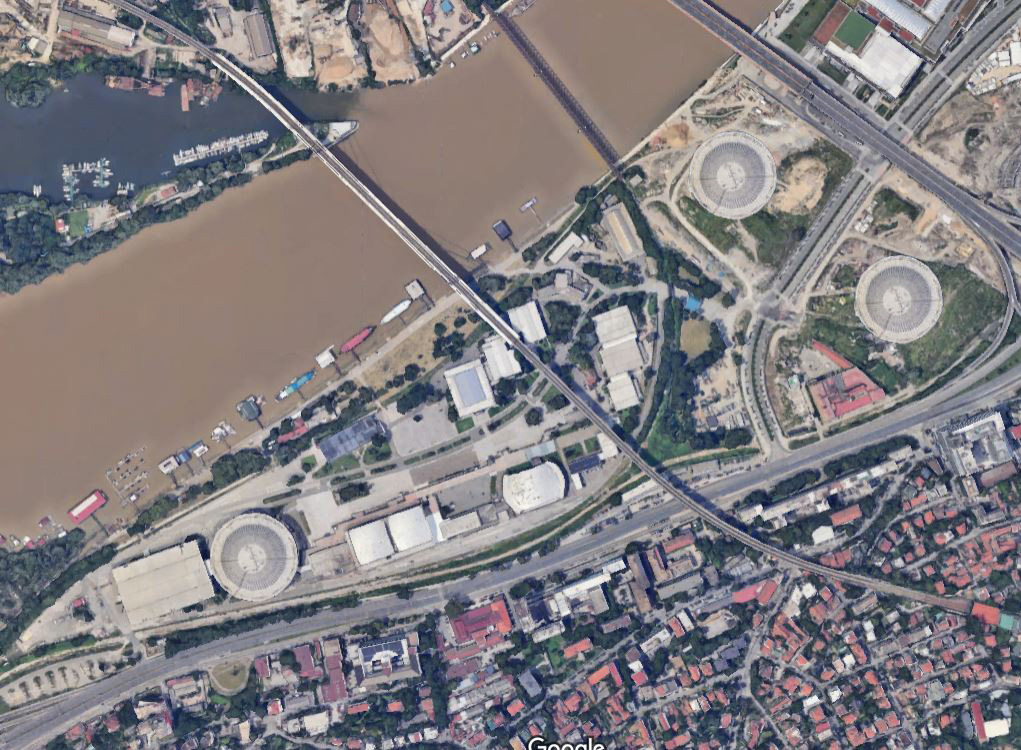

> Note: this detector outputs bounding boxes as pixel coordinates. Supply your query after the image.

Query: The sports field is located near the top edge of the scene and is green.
[836,11,874,49]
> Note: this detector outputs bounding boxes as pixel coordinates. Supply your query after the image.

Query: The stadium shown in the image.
[503,461,565,515]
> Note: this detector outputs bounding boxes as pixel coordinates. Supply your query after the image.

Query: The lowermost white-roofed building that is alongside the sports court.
[825,26,925,98]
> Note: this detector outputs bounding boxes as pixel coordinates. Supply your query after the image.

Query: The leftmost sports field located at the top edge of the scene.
[780,0,837,52]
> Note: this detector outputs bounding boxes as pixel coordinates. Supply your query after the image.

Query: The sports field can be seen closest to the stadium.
[680,322,711,357]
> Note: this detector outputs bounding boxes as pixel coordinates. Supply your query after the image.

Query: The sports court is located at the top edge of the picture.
[814,1,851,44]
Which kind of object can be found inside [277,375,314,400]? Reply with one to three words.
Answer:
boat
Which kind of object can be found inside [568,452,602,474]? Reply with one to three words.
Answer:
shed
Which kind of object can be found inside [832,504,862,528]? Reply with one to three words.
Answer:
house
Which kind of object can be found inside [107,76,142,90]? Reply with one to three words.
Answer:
ship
